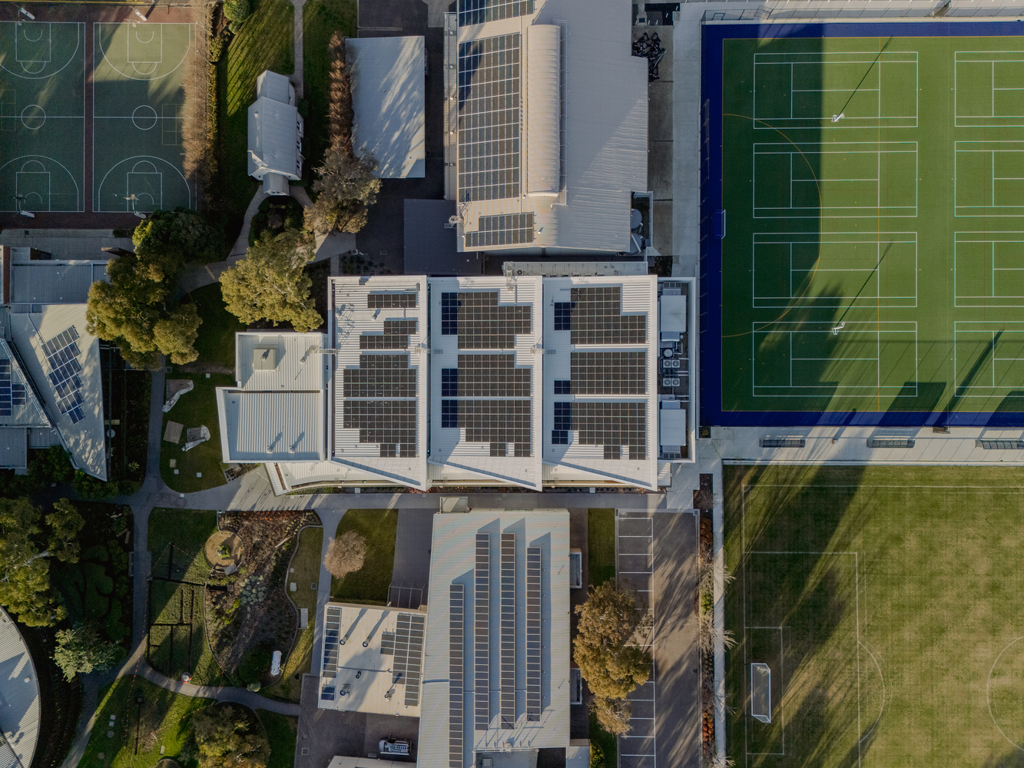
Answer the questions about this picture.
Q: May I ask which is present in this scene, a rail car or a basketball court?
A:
basketball court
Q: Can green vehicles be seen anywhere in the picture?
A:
No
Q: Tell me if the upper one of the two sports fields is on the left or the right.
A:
right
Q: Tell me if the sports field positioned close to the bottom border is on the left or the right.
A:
right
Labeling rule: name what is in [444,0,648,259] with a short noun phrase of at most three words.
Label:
building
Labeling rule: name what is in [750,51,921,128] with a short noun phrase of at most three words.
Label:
tennis court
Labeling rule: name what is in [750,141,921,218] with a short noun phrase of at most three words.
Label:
tennis court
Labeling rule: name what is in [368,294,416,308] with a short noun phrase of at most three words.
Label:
solar array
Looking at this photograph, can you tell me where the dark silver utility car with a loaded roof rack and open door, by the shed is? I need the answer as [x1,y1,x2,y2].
[378,732,412,757]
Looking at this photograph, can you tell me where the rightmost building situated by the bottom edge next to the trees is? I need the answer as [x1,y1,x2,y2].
[415,494,590,768]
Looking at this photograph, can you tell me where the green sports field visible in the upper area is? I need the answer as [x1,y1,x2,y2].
[702,20,1024,426]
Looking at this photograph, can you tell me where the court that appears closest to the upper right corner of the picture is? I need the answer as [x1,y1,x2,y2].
[951,52,1024,128]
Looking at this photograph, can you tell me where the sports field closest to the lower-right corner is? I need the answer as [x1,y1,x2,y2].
[726,465,1024,768]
